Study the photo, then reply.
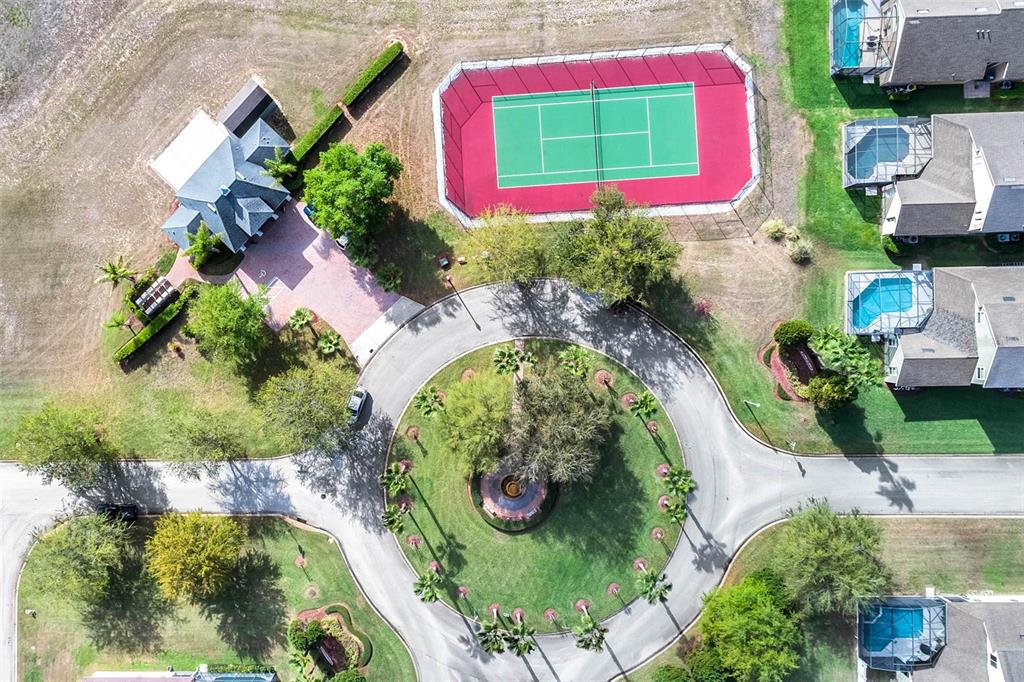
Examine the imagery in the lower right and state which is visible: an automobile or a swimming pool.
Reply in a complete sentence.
Visible in the lower right is a swimming pool.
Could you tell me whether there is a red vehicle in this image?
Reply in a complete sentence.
No, I find no red vehicle anywhere in the image.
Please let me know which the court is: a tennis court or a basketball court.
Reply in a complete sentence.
It turns out the court is a tennis court.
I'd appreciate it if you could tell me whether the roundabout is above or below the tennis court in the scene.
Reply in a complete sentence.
The roundabout is located below the tennis court in this view.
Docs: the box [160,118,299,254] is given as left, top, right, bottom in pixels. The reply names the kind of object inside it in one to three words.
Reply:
building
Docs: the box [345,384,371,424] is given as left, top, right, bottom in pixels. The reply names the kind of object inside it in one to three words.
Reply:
car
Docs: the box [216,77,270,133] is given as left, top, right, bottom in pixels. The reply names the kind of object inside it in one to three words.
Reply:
shed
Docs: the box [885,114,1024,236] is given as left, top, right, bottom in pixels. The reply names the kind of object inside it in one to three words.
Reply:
house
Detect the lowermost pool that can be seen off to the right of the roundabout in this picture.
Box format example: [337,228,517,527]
[857,595,936,660]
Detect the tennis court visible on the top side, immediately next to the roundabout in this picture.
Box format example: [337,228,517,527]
[432,42,760,228]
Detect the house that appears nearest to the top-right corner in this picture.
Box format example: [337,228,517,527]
[884,0,1024,86]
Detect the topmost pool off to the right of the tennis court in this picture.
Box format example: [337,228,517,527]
[830,0,884,76]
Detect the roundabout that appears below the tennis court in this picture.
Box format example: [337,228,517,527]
[344,282,731,681]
